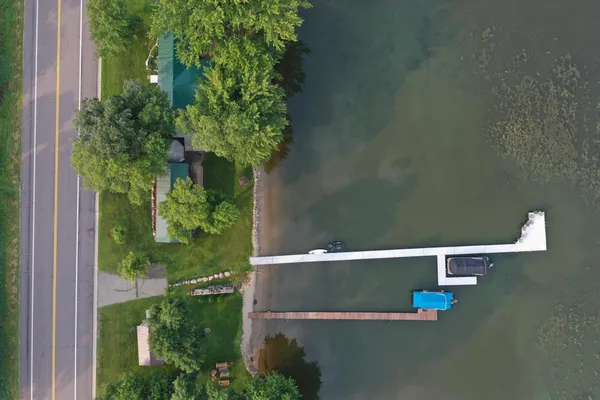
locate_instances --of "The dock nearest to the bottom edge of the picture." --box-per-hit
[248,308,437,320]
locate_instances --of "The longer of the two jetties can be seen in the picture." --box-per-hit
[250,212,548,285]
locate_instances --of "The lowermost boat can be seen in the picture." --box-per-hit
[412,291,454,309]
